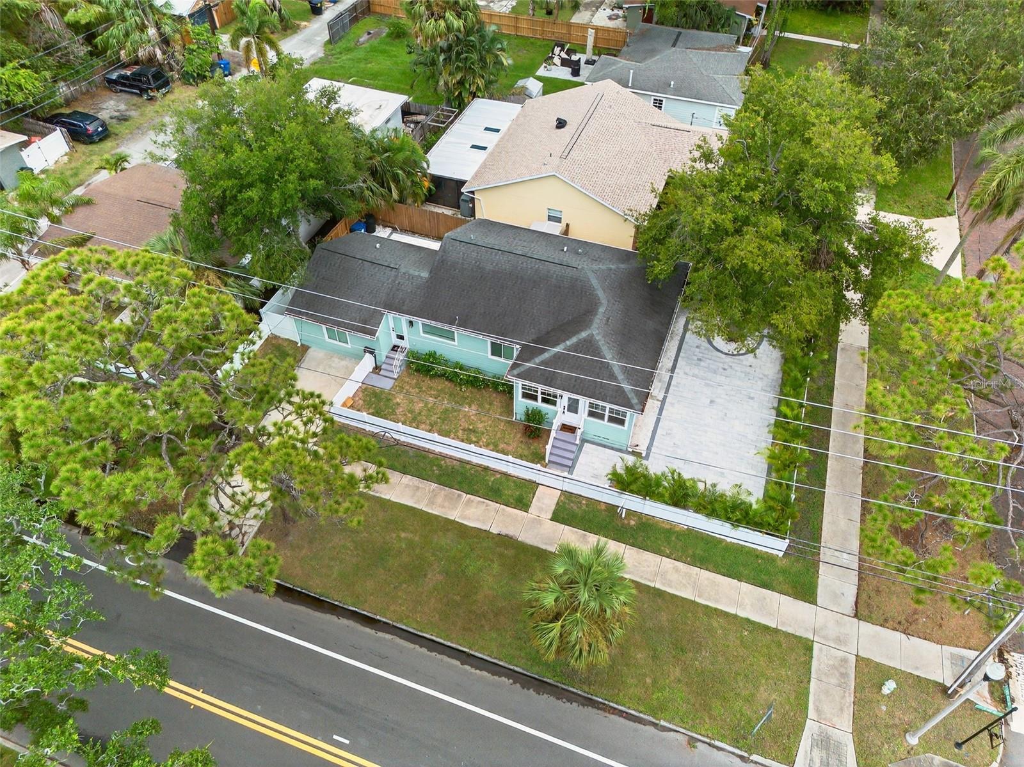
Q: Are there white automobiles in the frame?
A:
No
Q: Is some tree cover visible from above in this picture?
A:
Yes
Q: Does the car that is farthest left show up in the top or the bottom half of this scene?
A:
top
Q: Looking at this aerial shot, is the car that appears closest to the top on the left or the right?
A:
left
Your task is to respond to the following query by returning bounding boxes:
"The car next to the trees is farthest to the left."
[37,105,104,142]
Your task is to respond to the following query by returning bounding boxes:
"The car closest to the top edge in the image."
[103,64,171,100]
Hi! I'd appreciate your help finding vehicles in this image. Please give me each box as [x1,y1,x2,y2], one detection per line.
[103,64,171,100]
[37,105,104,142]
